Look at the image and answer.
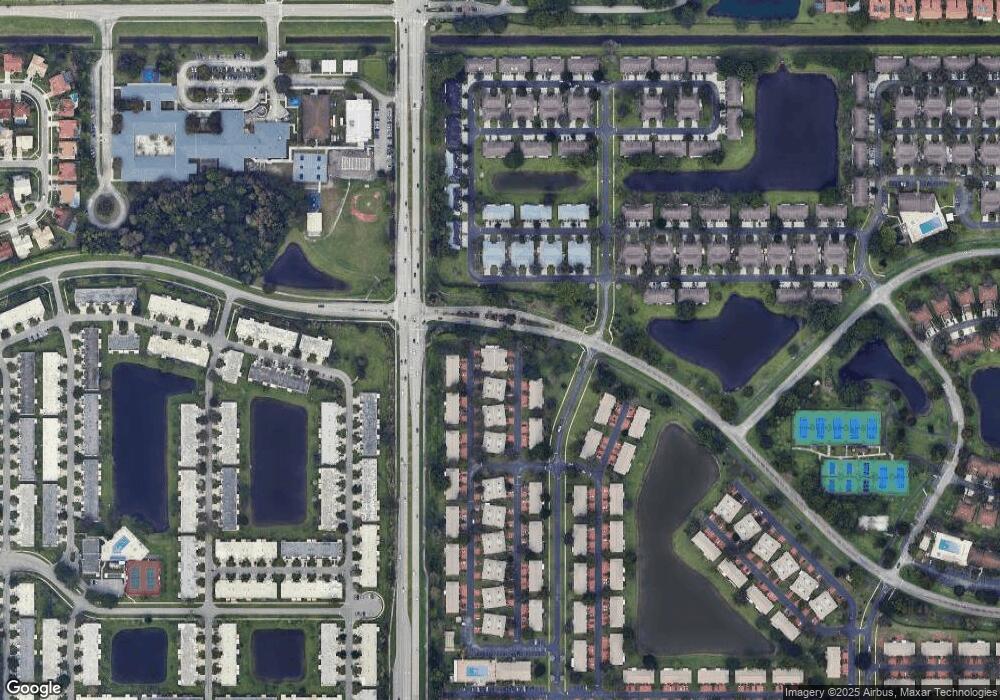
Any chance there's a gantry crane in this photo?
No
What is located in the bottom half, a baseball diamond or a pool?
pool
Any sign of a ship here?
No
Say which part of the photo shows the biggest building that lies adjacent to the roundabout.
top left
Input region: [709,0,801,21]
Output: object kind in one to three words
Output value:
pond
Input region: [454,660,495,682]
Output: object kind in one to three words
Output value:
swimming pool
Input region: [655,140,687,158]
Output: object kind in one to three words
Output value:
house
